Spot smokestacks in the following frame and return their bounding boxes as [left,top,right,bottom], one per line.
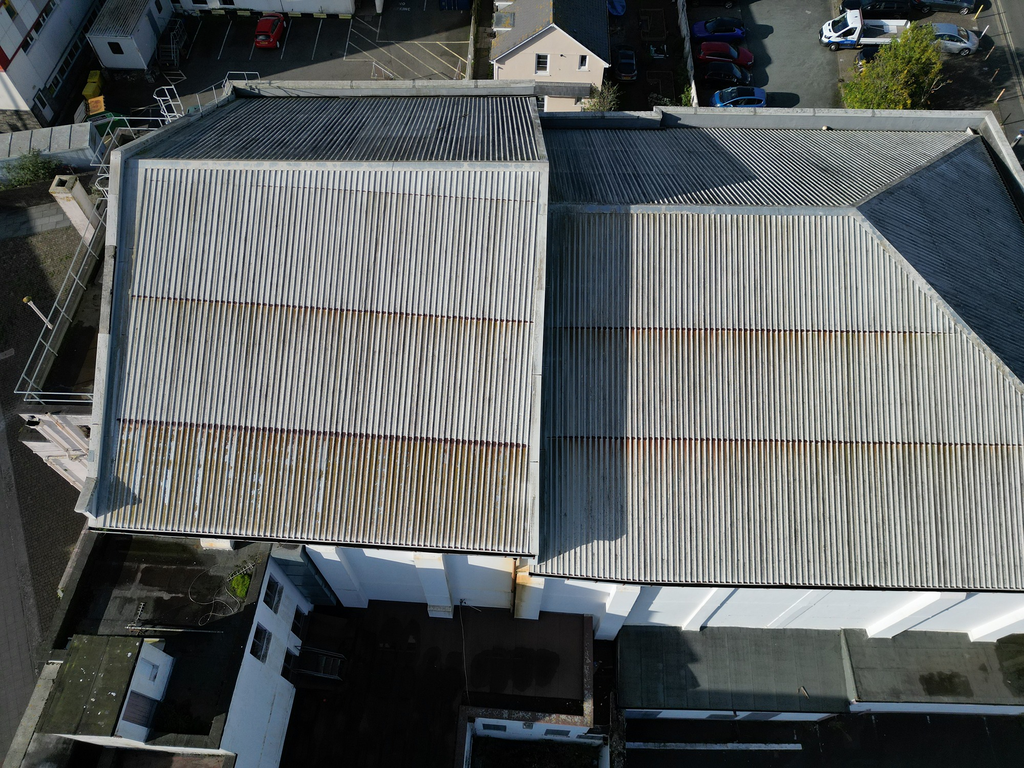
[50,176,91,235]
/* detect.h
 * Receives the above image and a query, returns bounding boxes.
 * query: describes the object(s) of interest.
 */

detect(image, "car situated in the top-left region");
[254,17,287,52]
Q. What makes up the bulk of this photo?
buildings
